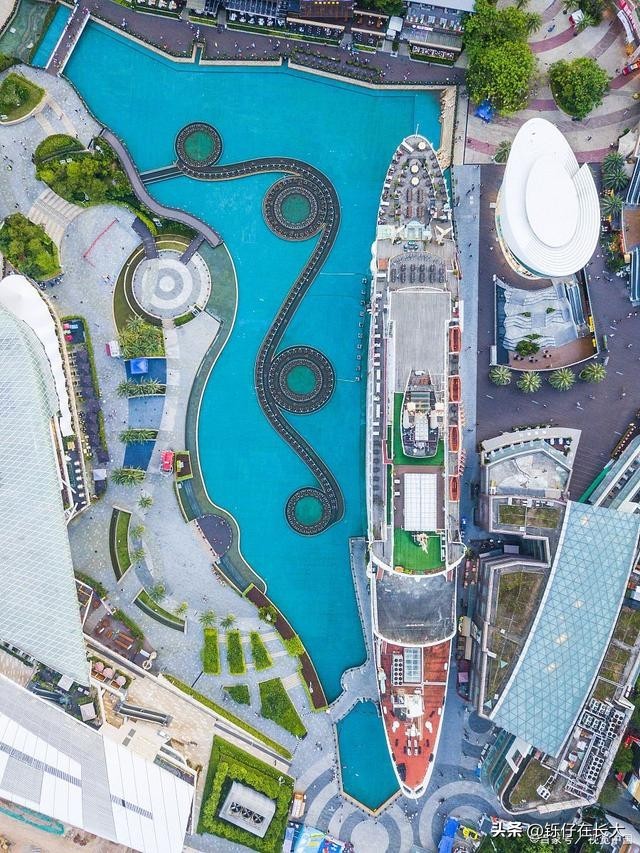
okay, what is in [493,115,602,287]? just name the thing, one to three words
building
